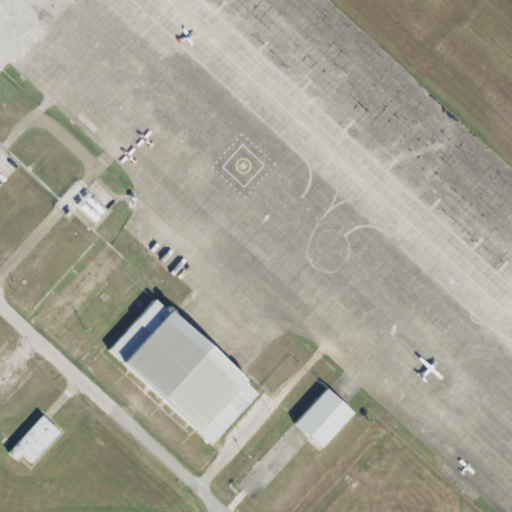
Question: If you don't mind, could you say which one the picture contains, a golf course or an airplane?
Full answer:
I can see an airplane in this picture.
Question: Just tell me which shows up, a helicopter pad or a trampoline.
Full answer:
Looking from above, you can make out a helicopter pad.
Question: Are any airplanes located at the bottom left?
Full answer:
No, the scene shows no airplane at the bottom left.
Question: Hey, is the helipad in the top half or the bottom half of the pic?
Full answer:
The helipad sits in the top half of the picture.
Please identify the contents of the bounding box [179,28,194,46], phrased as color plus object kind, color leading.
white airplane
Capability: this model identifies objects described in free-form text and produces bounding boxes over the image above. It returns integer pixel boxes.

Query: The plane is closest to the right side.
[458,460,475,475]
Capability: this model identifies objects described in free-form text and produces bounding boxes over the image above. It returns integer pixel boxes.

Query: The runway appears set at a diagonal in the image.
[200,0,512,284]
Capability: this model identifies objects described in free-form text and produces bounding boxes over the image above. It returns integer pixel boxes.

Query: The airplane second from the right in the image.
[418,358,444,382]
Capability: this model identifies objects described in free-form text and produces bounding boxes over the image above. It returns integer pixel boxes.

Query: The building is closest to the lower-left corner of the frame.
[7,414,61,464]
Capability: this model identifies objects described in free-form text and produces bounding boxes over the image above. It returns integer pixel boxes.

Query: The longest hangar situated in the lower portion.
[107,298,258,445]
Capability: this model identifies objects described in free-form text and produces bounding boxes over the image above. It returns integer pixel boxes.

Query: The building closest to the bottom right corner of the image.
[292,388,356,448]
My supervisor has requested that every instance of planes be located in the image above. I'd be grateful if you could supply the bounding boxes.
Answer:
[458,460,475,475]
[138,132,153,147]
[122,148,136,164]
[179,28,194,46]
[418,358,444,382]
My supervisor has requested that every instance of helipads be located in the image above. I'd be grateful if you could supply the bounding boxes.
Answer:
[212,133,276,198]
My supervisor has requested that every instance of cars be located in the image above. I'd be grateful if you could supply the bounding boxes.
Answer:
[106,200,116,209]
[8,158,18,168]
